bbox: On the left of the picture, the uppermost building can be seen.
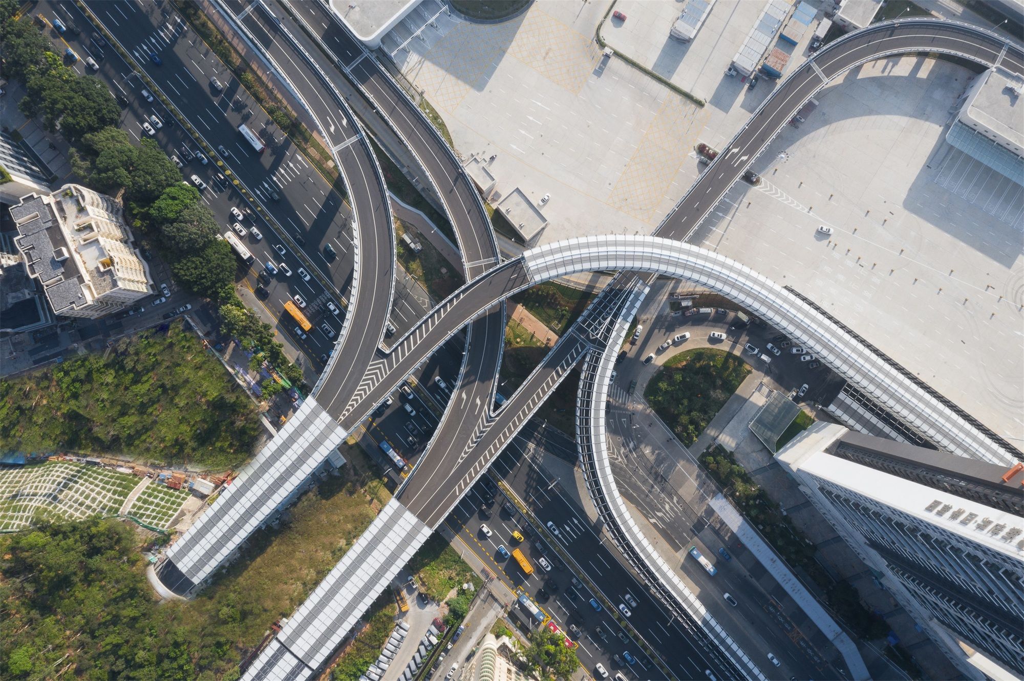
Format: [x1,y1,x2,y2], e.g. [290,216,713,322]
[329,0,441,60]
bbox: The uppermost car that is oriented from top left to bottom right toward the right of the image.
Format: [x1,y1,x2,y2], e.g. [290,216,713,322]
[612,8,628,21]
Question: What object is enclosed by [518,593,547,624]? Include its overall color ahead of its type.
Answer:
white bus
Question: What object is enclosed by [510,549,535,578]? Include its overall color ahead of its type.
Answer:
orange bus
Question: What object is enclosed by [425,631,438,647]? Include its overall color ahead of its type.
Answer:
white vehicle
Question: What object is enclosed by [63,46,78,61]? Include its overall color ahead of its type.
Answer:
blue car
